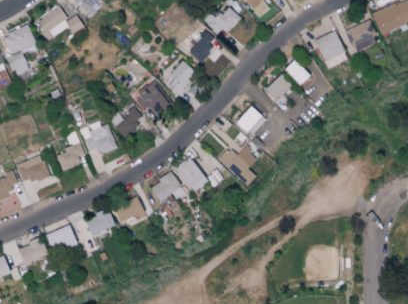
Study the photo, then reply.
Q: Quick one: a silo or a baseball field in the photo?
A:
baseball field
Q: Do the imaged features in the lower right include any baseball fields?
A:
Yes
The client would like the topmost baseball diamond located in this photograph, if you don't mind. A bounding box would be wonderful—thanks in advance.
[264,220,342,293]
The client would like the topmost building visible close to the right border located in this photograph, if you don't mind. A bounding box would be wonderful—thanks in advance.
[374,0,408,34]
